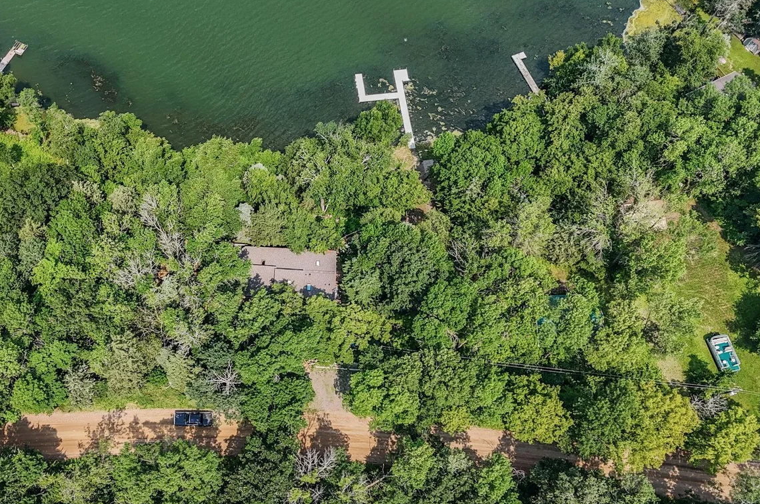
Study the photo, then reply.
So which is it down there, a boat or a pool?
boat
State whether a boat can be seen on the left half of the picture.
No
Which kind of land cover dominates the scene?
trees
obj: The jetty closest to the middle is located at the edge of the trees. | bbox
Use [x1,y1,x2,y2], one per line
[355,67,415,149]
